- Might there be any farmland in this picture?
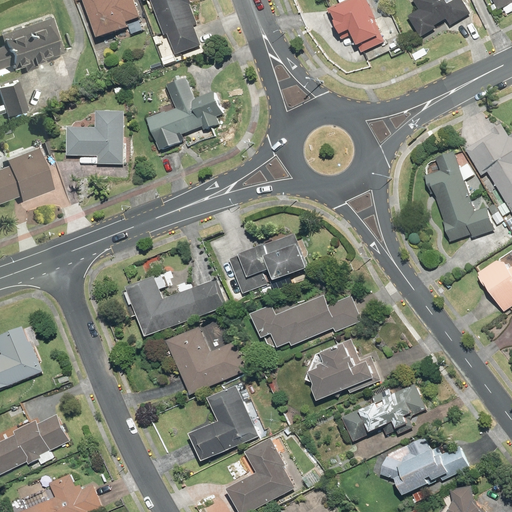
No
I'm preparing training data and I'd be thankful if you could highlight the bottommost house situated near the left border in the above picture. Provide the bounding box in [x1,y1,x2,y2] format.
[25,475,104,512]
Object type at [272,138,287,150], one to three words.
vehicle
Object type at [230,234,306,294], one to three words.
house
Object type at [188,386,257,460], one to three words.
house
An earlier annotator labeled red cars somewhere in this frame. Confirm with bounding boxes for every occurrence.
[255,0,264,12]
[164,158,172,172]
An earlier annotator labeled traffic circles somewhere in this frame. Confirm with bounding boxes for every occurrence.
[272,93,386,208]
